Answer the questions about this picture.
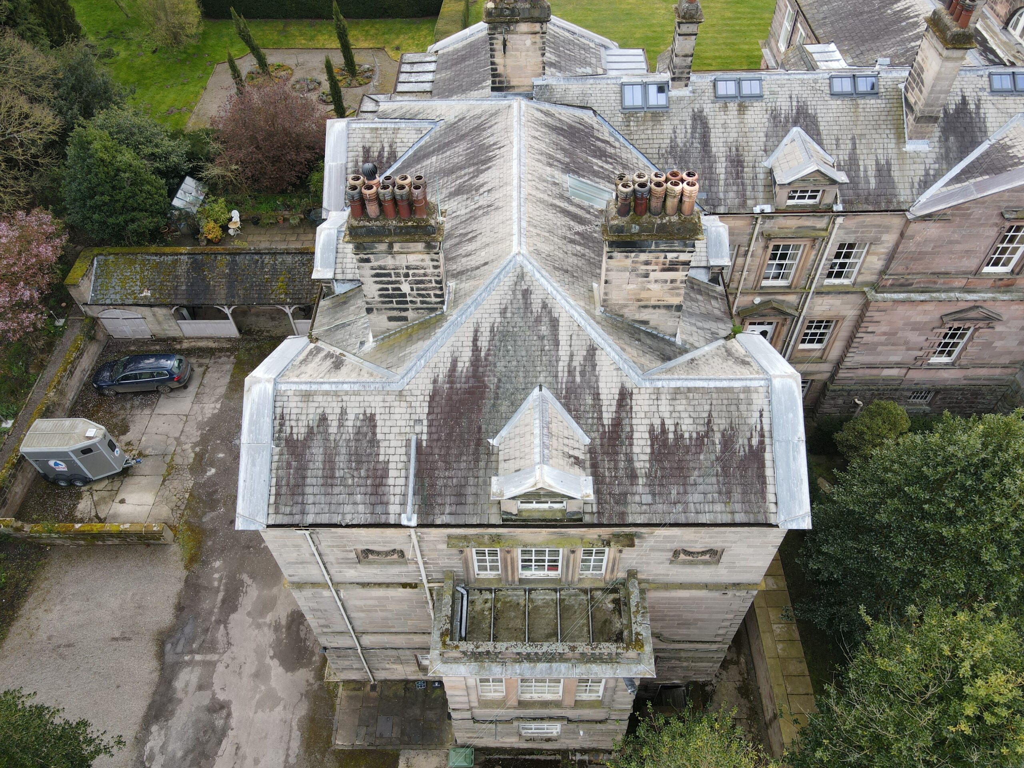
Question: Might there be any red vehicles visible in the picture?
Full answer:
No, no red vehicle can be seen from above.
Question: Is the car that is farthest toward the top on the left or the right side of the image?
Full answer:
The car that is farthest toward the top appears in the left half of the scene.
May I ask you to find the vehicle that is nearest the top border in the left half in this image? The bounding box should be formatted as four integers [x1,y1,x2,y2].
[87,347,193,396]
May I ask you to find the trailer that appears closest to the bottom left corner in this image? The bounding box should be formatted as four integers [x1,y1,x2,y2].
[15,420,146,487]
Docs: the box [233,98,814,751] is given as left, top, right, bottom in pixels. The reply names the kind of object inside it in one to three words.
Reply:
house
